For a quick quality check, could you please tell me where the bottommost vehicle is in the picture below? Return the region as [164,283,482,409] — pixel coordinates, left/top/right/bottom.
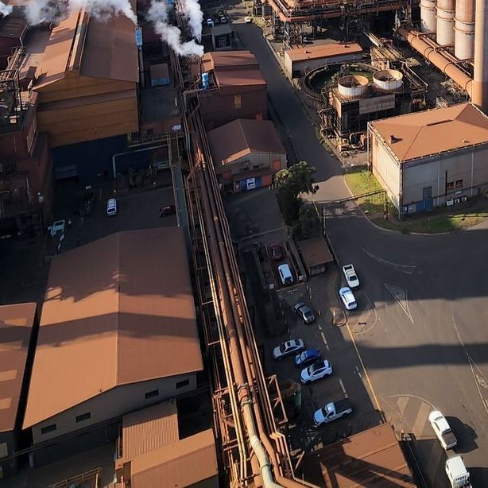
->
[439,450,475,488]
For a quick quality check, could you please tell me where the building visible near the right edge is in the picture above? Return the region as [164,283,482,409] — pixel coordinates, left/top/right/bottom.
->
[370,107,488,213]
